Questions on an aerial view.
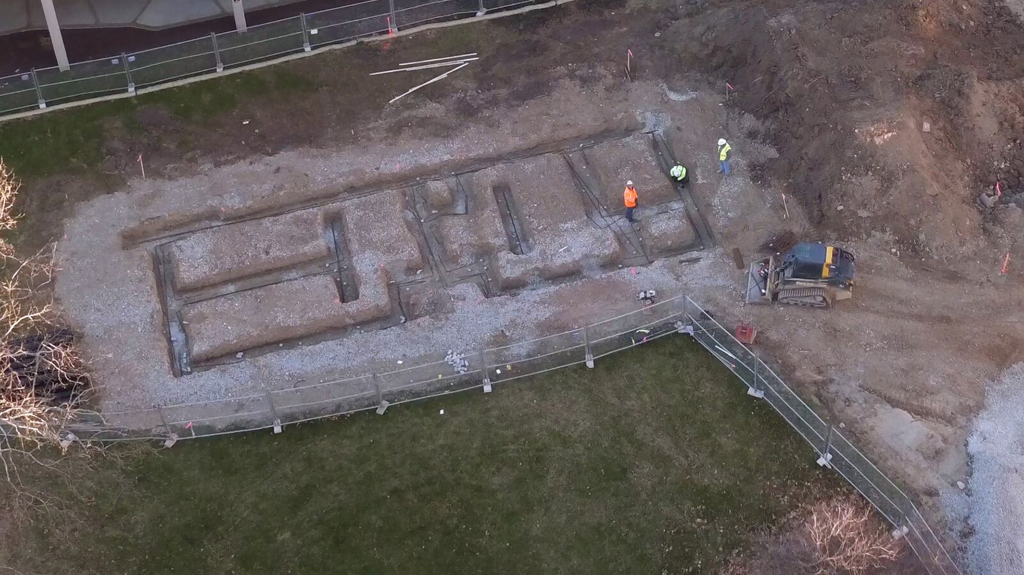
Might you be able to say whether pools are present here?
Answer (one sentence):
No, the frame has no pool in it.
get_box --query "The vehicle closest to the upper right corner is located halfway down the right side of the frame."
[744,241,857,308]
